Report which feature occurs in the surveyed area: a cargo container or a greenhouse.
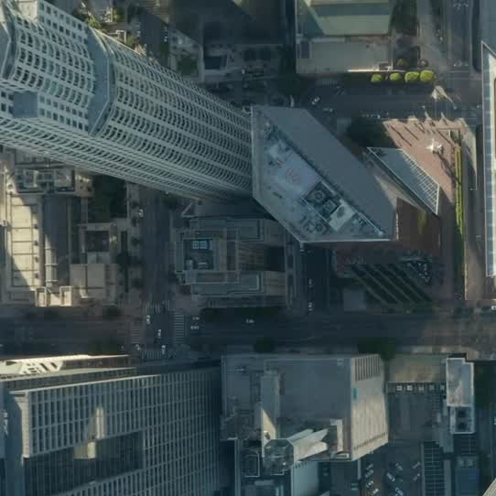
greenhouse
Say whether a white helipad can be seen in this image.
No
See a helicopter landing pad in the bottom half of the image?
No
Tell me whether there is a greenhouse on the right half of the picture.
Yes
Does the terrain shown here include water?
No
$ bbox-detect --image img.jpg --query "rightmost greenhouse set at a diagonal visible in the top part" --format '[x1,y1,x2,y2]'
[368,147,442,215]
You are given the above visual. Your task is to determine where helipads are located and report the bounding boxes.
[274,142,319,186]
